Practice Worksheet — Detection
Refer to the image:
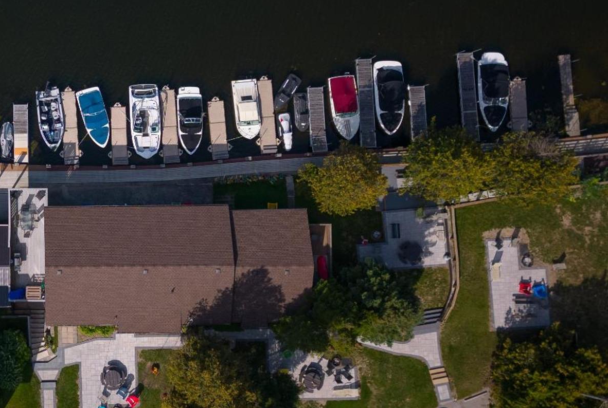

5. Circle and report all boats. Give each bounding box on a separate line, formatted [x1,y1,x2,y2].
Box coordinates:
[35,84,64,154]
[477,52,509,133]
[129,83,161,159]
[294,93,309,132]
[172,87,203,155]
[75,87,110,148]
[373,60,404,135]
[275,72,298,110]
[329,70,361,140]
[1,123,13,158]
[232,78,260,140]
[278,114,292,151]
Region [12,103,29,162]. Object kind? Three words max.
pier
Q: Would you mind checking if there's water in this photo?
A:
Yes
